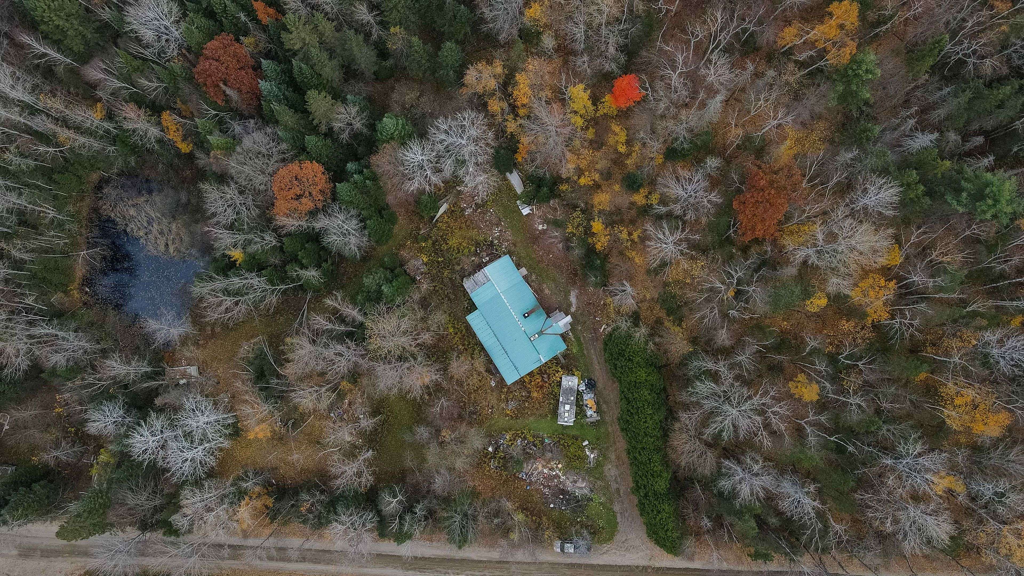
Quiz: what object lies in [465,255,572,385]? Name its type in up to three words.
house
